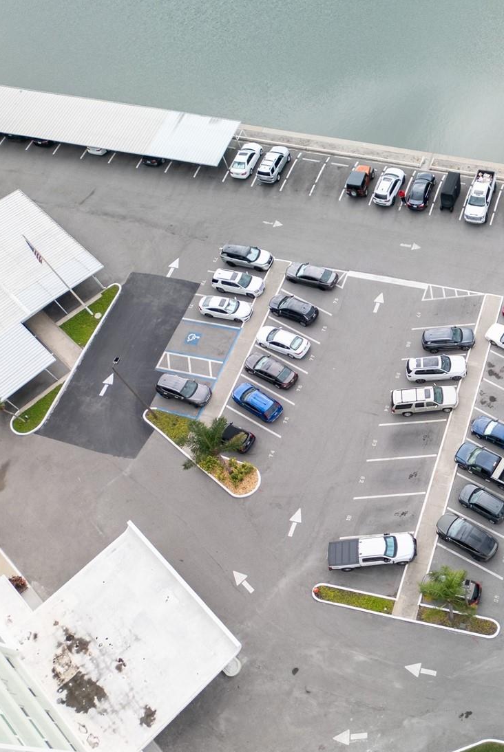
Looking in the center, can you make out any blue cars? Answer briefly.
Yes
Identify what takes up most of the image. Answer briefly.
paved ground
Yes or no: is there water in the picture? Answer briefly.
Yes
